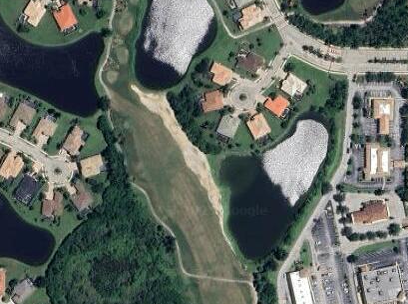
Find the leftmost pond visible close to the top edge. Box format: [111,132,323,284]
[134,0,217,89]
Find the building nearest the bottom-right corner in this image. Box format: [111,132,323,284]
[361,266,407,304]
